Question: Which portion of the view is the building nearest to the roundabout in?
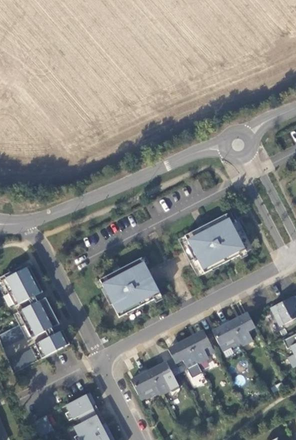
right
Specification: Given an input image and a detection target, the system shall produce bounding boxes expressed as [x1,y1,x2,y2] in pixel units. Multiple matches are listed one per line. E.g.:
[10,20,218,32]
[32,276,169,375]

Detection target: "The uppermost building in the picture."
[180,214,252,276]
